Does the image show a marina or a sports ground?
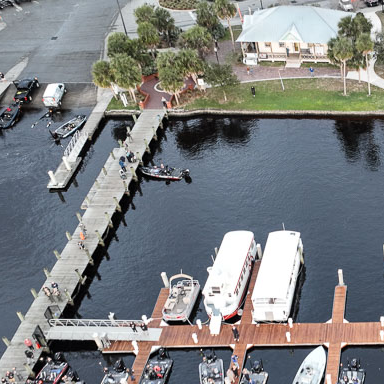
marina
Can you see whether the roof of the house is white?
Yes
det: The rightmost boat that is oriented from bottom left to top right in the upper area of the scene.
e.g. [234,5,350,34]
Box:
[52,113,87,140]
